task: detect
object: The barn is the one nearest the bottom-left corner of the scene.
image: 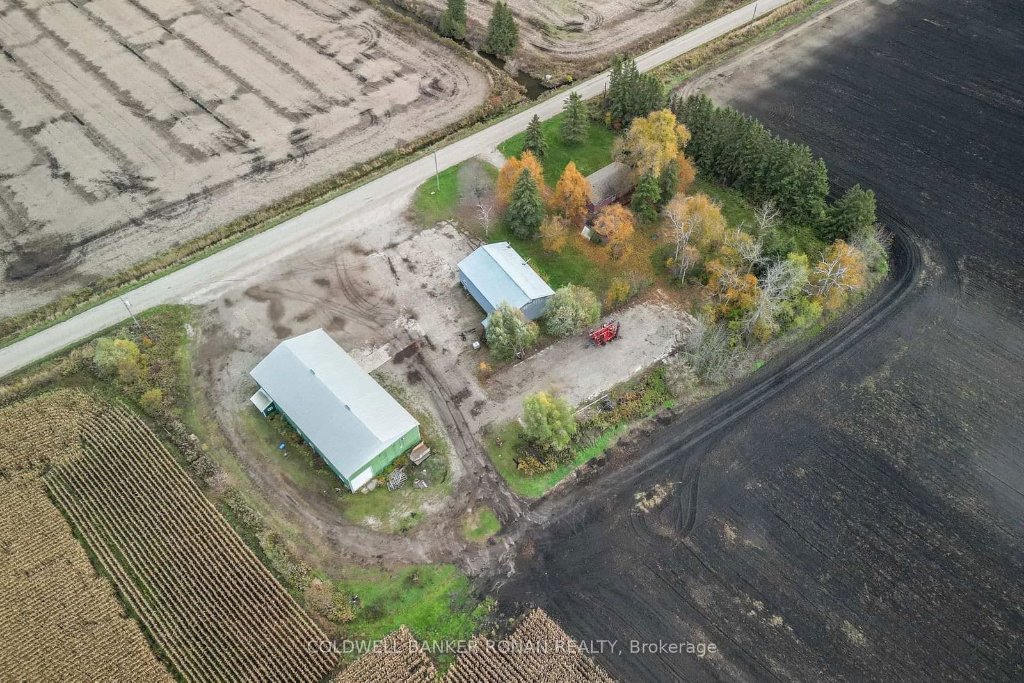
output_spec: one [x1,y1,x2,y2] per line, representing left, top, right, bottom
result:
[248,330,422,491]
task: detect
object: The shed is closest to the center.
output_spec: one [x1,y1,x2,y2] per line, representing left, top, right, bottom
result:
[457,243,556,337]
